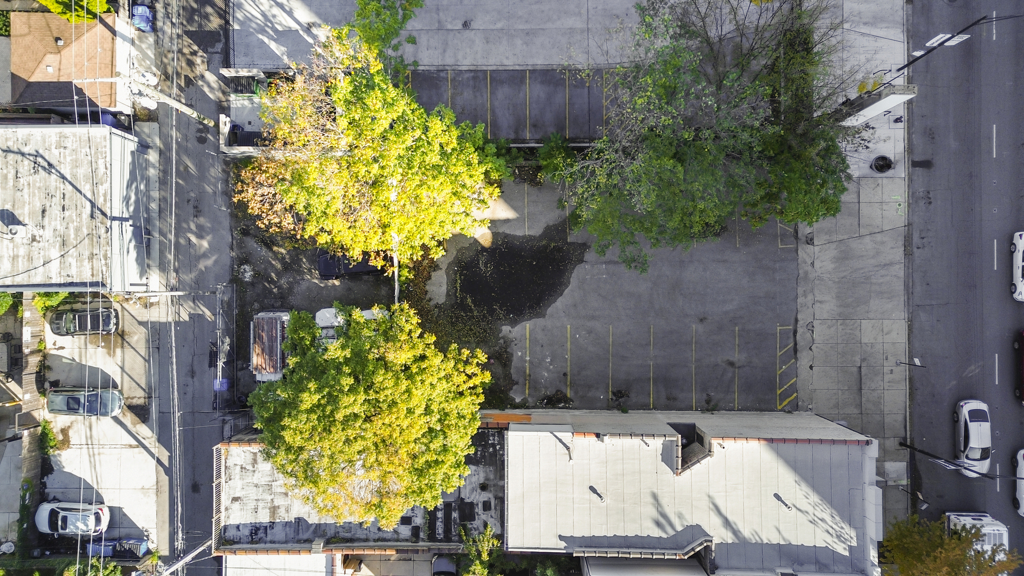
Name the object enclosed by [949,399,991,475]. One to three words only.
car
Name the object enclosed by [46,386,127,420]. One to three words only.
car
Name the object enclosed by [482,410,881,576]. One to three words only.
building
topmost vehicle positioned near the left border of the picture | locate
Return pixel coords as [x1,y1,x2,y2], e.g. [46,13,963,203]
[51,306,122,339]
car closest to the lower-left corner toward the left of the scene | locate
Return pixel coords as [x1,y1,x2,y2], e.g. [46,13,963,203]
[37,501,114,538]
